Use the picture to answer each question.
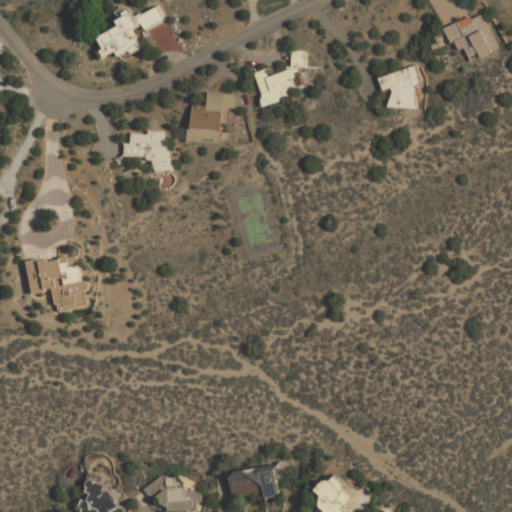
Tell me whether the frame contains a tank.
No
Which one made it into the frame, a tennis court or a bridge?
tennis court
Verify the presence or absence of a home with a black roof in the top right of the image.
No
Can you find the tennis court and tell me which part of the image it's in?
center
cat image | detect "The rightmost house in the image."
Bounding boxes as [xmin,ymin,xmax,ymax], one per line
[443,15,500,62]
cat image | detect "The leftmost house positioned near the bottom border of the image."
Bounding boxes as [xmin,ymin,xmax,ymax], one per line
[79,480,128,512]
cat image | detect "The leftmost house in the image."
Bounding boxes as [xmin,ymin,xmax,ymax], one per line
[26,256,89,311]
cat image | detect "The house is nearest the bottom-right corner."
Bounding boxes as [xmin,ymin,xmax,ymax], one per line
[312,474,350,512]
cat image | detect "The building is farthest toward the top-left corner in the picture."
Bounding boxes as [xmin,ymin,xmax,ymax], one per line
[97,4,166,60]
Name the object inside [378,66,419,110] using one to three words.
house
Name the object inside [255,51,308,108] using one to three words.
house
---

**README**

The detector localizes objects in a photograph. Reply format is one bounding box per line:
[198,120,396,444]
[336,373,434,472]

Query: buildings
[186,91,236,144]
[79,480,128,512]
[378,66,419,110]
[443,15,500,62]
[228,466,279,498]
[123,131,175,173]
[255,51,308,108]
[143,475,203,512]
[312,474,350,512]
[97,4,166,60]
[26,256,89,311]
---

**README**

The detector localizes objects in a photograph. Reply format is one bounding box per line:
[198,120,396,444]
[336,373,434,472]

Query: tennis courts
[232,182,282,258]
